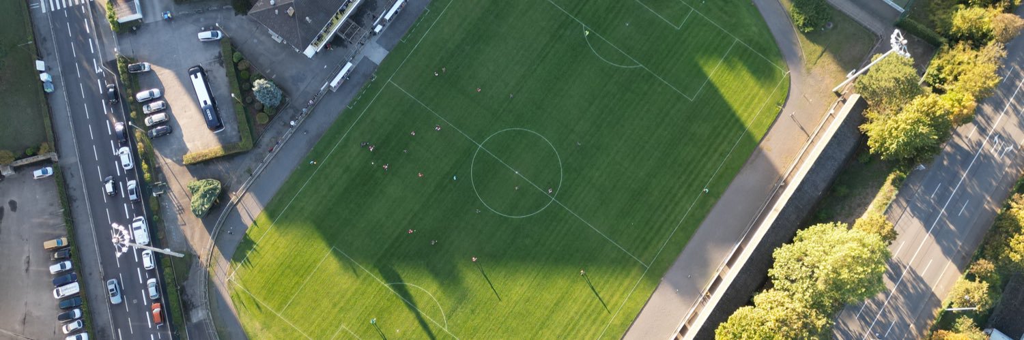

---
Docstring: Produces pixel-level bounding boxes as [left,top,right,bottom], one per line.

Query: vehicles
[53,281,79,299]
[105,83,120,105]
[102,175,118,197]
[127,61,151,73]
[125,178,141,203]
[56,308,80,324]
[145,277,161,301]
[197,29,223,42]
[64,330,84,340]
[50,247,69,261]
[106,278,122,305]
[147,123,173,138]
[113,121,128,143]
[140,249,156,272]
[58,297,78,311]
[118,146,135,171]
[32,166,53,180]
[135,88,162,103]
[144,110,170,126]
[149,302,165,326]
[42,236,67,250]
[61,319,82,334]
[48,260,72,275]
[129,216,152,245]
[185,61,228,132]
[51,273,74,288]
[142,99,167,115]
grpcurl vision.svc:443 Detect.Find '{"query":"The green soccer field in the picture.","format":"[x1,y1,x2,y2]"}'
[230,0,791,340]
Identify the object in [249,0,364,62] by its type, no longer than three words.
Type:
building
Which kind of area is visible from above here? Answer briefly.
sports ground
